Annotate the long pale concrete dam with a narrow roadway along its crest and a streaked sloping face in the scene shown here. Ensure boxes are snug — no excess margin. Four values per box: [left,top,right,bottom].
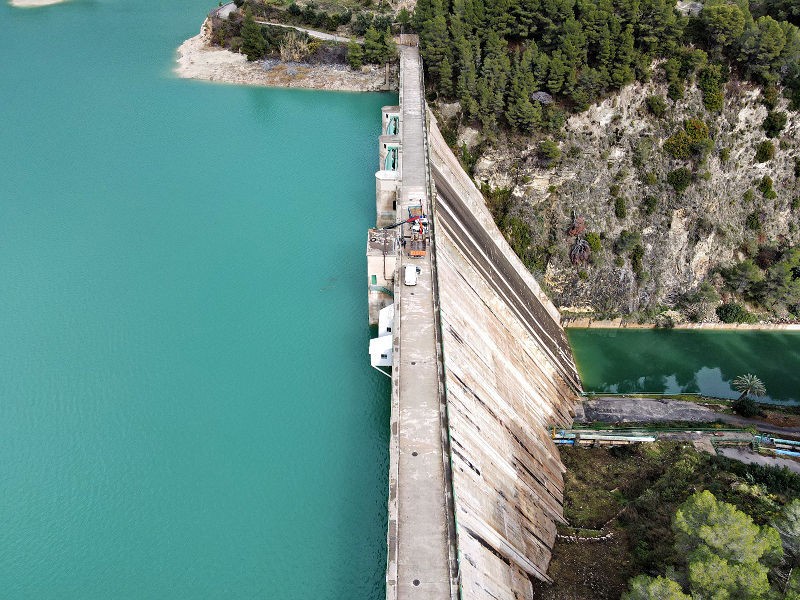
[371,40,580,600]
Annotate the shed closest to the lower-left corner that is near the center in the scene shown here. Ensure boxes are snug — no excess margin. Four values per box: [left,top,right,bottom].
[368,335,391,383]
